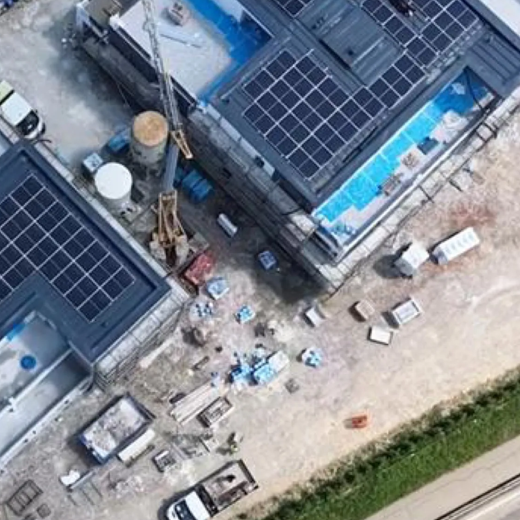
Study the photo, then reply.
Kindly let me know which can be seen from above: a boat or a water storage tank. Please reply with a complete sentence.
There is a water storage tank in the scene.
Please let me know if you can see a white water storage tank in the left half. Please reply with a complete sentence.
Yes, in the left half there is a white water storage tank.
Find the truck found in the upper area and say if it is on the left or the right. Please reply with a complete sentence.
The truck found in the upper area appears in the left half of the scene.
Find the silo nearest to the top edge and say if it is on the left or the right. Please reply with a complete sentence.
You can find the silo nearest to the top edge on the left side of the picture.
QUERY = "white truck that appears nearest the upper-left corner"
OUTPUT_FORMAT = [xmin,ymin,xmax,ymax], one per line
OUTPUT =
[0,74,51,149]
